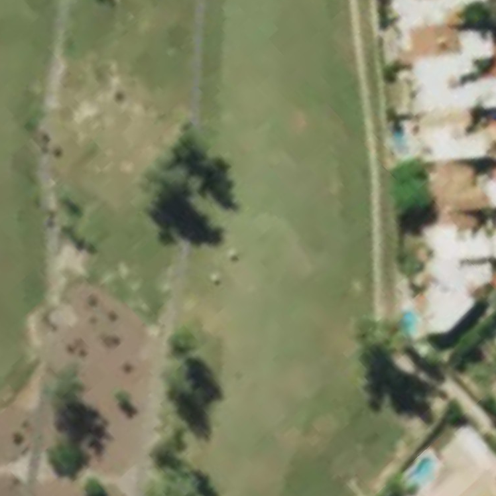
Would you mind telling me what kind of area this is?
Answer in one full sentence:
What you see here is a golf course.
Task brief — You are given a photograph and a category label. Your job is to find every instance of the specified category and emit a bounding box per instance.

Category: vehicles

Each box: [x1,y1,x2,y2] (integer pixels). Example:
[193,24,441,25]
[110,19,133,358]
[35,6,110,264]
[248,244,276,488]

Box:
[209,273,218,282]
[227,249,235,257]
